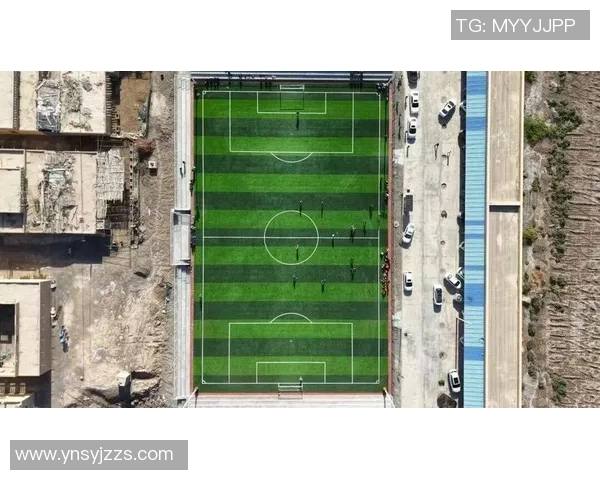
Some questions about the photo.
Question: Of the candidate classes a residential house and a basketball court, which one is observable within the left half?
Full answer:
There is a residential house within the left half.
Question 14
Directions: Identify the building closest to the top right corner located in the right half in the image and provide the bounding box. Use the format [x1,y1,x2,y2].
[482,0,524,210]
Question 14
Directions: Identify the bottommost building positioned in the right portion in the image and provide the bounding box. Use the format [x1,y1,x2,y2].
[488,210,524,480]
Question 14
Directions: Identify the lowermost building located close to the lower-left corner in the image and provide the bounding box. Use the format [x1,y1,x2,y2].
[0,389,42,471]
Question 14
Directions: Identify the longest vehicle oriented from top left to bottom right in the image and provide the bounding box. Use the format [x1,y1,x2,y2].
[442,272,462,289]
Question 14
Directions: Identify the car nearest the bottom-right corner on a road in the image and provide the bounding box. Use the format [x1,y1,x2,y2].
[448,369,461,391]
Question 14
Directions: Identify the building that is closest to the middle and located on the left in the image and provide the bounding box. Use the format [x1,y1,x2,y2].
[172,208,192,264]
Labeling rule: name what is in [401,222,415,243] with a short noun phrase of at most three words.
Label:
car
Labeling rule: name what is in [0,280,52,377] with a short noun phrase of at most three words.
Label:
house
